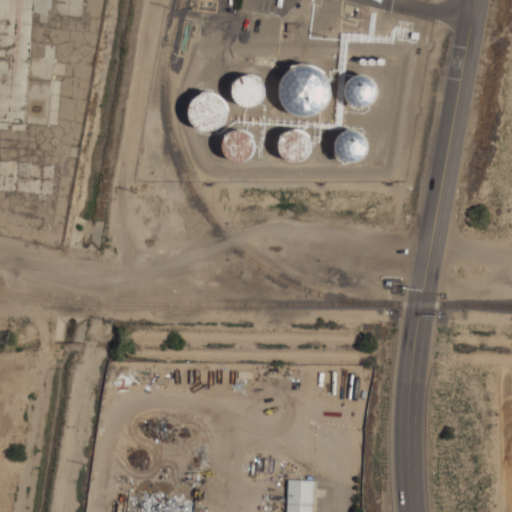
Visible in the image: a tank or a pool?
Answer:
tank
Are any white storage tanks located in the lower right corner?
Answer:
No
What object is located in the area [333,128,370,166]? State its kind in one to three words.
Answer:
storage tank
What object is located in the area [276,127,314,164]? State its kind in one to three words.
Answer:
storage tank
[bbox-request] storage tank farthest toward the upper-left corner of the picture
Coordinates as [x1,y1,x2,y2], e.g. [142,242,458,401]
[186,90,230,132]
